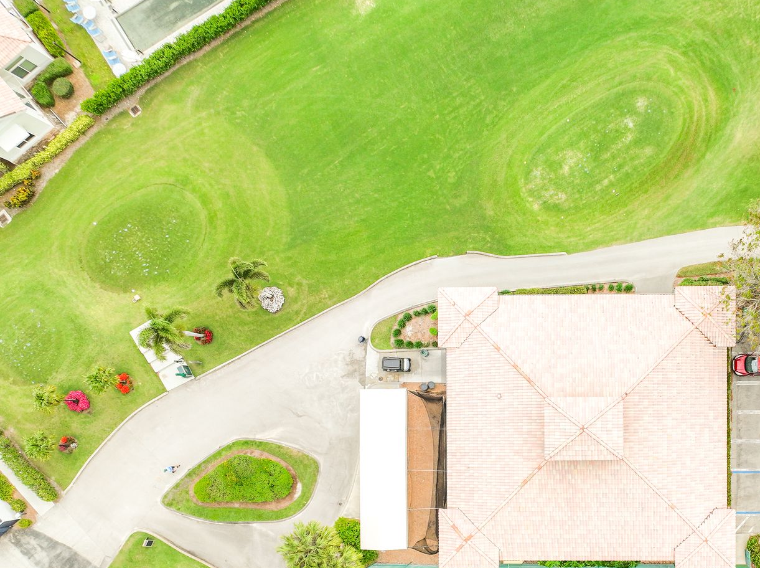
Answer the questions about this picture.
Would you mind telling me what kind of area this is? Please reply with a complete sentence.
The picture captures a golf course.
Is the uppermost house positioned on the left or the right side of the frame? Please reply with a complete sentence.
The uppermost house is on the left side of the image.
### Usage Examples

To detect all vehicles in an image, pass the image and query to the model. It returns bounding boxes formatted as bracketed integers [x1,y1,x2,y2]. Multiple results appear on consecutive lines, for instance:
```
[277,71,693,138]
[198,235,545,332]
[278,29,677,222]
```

[733,351,760,377]
[377,355,410,373]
